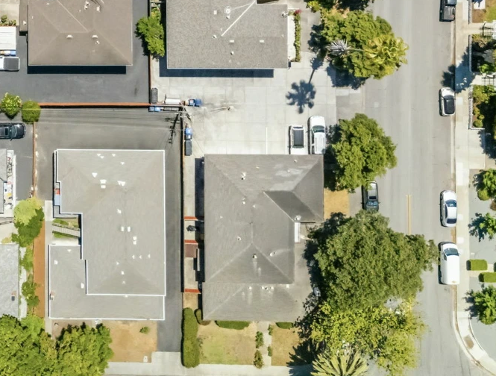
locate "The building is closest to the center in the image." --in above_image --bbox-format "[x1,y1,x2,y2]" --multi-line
[201,151,324,321]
